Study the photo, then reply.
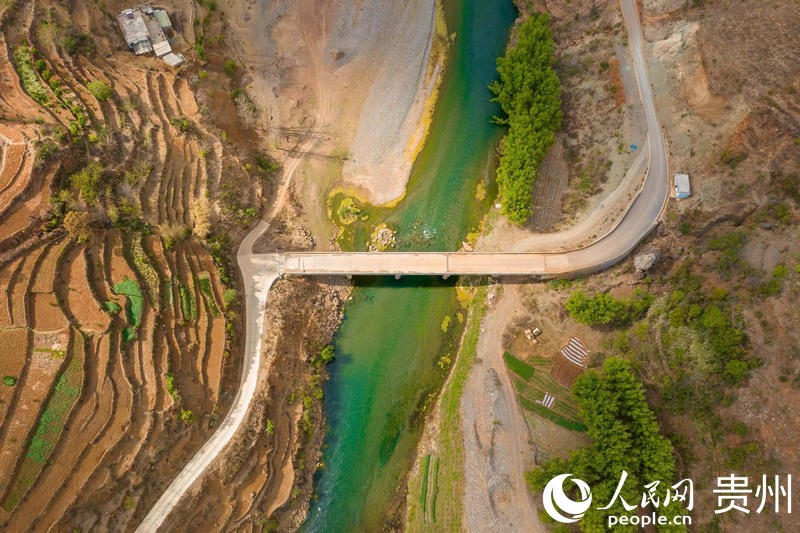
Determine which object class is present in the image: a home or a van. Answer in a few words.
home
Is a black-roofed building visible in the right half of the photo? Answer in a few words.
No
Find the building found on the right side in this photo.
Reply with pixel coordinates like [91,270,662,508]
[672,173,689,199]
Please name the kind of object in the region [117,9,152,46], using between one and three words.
house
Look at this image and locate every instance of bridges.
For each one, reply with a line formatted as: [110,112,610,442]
[284,252,546,279]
